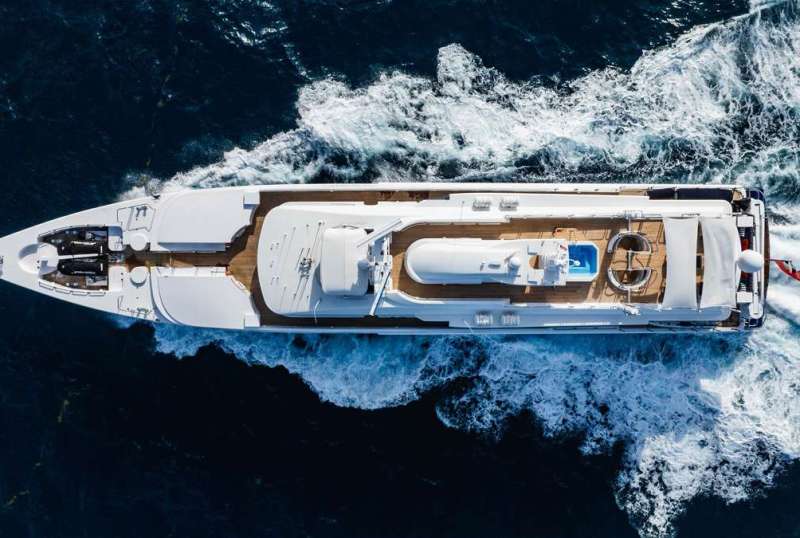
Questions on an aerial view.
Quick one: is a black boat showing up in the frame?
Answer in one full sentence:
Yes, the picture does show a black boat.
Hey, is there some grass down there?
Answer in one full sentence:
No, the picture contains no grass.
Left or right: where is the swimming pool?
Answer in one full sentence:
You can find the swimming pool on the right side of the picture.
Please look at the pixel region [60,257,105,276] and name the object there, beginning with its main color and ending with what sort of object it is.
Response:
black boat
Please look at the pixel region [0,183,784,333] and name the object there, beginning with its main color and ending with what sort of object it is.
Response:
white boat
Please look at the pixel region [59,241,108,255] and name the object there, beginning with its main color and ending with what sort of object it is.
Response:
black boat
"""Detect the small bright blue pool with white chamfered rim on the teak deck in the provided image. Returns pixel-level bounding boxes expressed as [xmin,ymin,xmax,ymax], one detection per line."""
[566,238,602,283]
